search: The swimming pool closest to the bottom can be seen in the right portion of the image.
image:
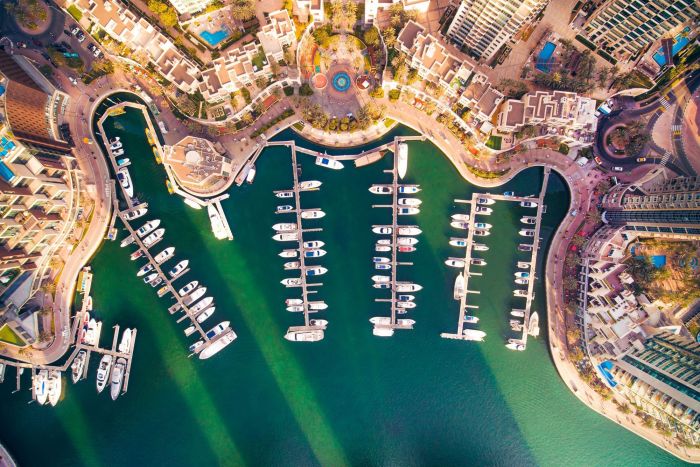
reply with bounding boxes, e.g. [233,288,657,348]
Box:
[591,358,619,394]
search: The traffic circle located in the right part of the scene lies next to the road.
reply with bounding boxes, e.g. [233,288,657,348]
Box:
[593,108,659,169]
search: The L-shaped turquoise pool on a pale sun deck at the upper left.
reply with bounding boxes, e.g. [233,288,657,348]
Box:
[188,5,240,50]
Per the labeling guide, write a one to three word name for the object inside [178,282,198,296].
boat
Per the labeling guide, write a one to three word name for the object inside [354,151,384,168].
ship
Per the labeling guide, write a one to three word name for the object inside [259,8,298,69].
building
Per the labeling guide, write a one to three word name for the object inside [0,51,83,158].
building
